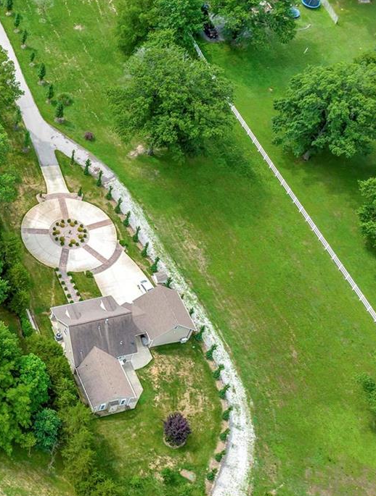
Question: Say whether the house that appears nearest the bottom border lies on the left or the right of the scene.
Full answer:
The house that appears nearest the bottom border appears in the left half of the scene.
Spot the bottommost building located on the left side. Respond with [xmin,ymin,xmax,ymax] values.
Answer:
[51,285,197,418]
